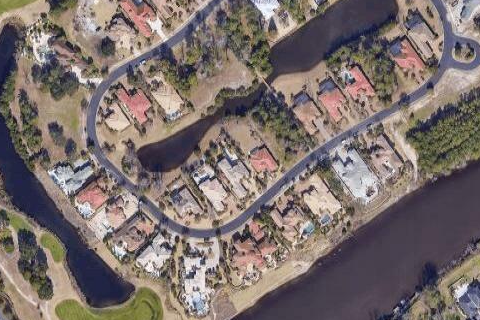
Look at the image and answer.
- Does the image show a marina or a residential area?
residential area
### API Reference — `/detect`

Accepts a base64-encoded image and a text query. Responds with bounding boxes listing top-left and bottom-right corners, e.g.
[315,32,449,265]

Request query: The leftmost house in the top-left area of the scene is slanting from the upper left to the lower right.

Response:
[34,32,101,85]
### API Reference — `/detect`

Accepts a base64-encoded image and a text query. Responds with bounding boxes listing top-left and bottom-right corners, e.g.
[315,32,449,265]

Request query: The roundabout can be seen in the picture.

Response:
[439,34,480,73]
